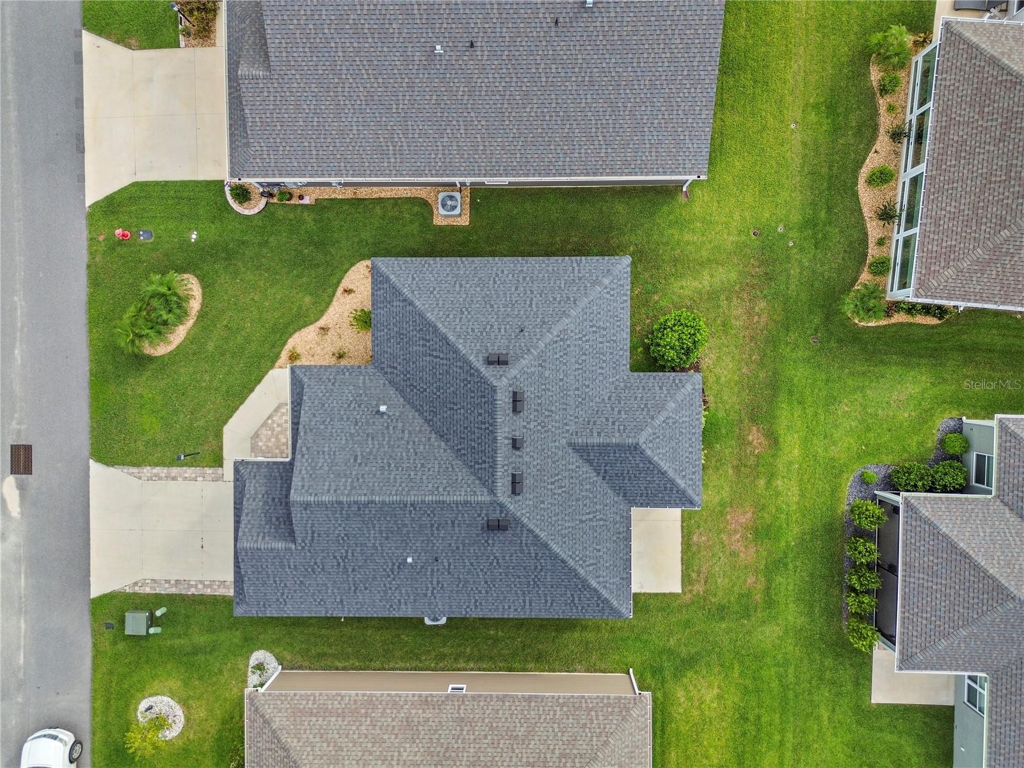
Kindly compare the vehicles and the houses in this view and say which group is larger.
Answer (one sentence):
In this view, houses are more numerous than vehicles.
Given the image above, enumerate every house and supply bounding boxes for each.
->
[233,256,703,619]
[246,661,652,768]
[888,0,1024,313]
[227,0,727,193]
[872,414,1024,768]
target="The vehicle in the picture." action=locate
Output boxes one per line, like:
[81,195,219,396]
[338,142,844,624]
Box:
[17,720,89,768]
